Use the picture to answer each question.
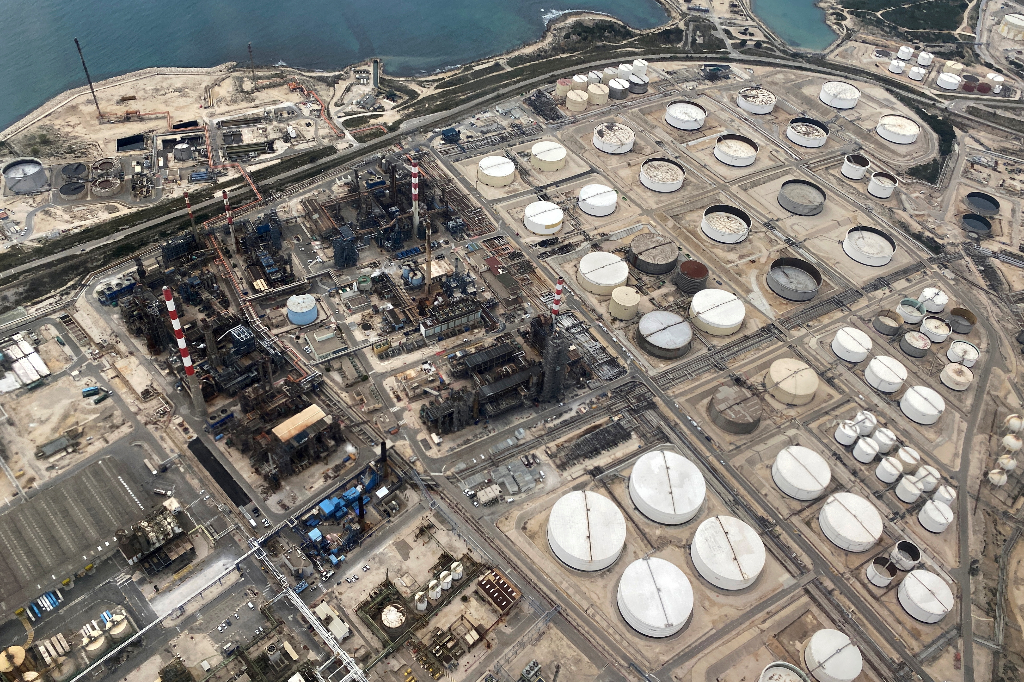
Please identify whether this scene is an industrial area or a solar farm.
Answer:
industrial area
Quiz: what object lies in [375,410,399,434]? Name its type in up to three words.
building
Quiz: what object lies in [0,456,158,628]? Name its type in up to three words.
warehouse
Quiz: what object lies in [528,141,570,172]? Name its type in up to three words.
storage tank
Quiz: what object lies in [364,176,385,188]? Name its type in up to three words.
cooling tower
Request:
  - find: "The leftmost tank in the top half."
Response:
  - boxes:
[1,157,53,194]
